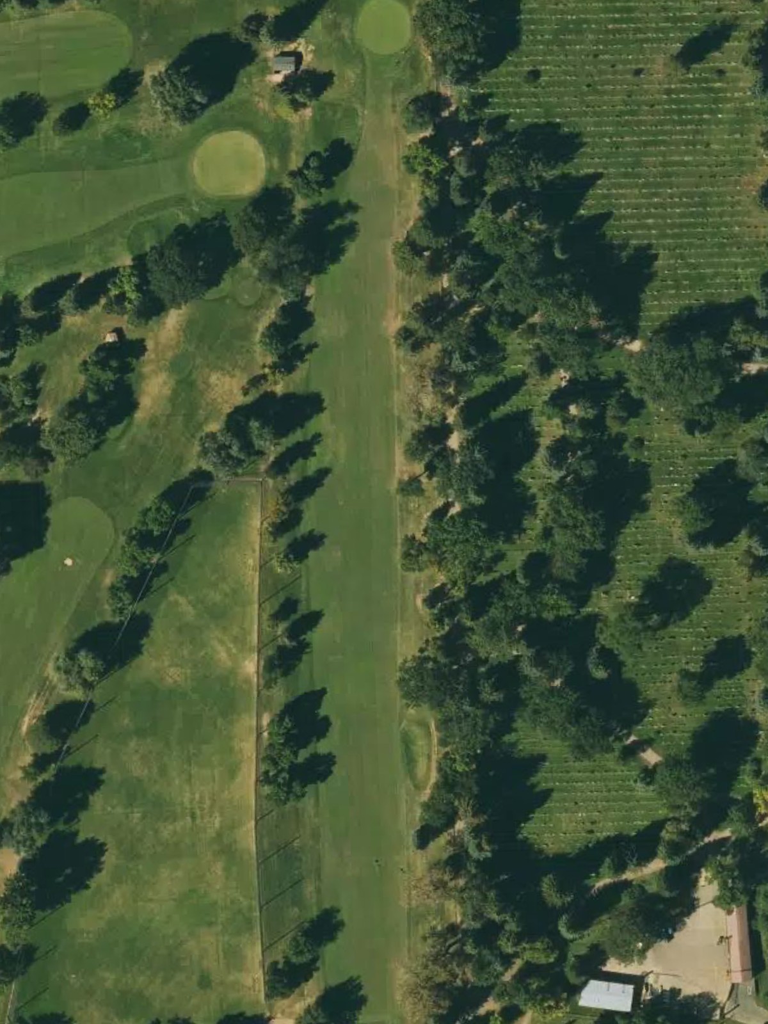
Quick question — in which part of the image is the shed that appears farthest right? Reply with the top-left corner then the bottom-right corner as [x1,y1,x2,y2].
[727,908,752,984]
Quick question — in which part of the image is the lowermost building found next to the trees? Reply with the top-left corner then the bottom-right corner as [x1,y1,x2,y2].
[578,980,634,1012]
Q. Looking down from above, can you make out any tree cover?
Yes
